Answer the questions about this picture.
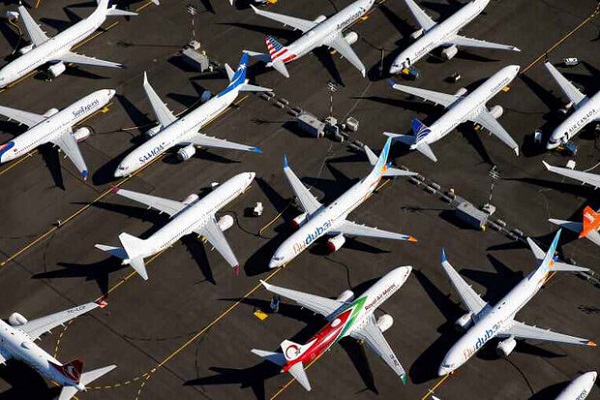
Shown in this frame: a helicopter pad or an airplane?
airplane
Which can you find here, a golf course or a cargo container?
cargo container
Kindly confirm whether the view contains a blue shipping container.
No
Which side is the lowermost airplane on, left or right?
right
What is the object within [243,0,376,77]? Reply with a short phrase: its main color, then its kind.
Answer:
white airplane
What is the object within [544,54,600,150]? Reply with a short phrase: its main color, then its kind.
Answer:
white airplane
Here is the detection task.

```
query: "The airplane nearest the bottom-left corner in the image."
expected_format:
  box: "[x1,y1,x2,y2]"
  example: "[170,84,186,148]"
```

[0,295,117,400]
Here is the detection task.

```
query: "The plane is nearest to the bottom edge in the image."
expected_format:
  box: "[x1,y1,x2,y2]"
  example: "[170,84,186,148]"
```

[554,372,595,400]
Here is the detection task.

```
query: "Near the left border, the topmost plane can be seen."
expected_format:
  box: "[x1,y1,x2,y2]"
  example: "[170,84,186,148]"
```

[0,0,138,95]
